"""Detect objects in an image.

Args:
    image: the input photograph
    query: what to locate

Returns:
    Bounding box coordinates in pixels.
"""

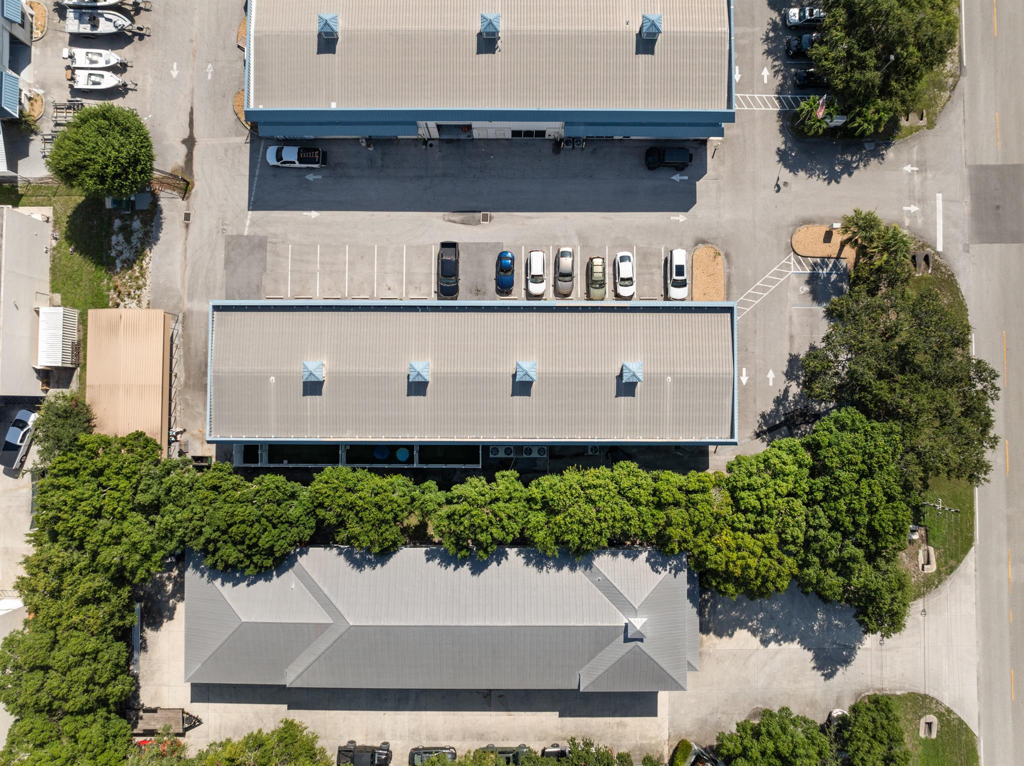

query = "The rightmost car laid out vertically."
[665,248,691,300]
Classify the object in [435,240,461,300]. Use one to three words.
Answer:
truck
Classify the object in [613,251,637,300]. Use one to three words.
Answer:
car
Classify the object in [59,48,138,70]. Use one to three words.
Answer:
boat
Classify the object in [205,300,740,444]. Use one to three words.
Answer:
building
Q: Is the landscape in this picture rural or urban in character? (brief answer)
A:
urban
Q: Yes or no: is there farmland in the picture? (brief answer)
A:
No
